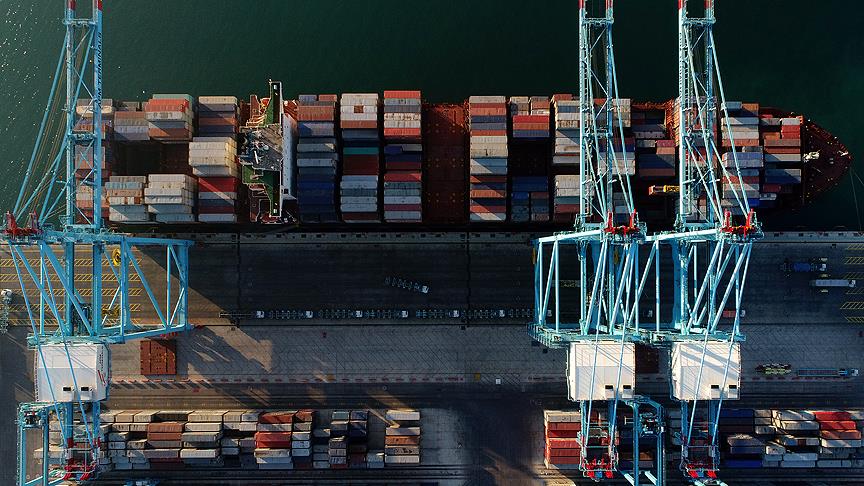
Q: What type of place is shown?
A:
port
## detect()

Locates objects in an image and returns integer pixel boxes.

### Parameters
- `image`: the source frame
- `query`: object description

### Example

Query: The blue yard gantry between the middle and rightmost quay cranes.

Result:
[615,395,666,486]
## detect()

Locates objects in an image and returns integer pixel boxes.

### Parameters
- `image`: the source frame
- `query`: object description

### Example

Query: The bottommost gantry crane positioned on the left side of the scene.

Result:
[11,395,83,486]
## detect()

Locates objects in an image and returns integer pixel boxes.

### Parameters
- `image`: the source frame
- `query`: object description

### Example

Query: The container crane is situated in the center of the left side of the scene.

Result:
[6,0,203,483]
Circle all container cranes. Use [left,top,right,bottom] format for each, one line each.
[599,0,764,483]
[518,0,647,483]
[615,395,666,486]
[6,0,203,483]
[11,395,83,486]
